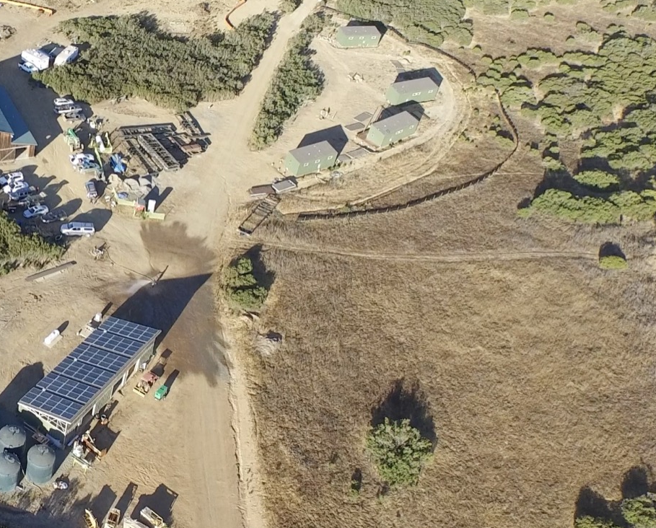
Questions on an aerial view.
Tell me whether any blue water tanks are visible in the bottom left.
No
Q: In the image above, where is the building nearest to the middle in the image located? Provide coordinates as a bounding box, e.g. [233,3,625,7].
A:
[275,140,342,176]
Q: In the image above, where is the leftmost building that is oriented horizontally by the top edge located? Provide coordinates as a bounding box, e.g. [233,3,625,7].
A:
[329,26,383,47]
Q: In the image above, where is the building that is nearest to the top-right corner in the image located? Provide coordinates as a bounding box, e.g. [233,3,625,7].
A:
[381,79,438,105]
